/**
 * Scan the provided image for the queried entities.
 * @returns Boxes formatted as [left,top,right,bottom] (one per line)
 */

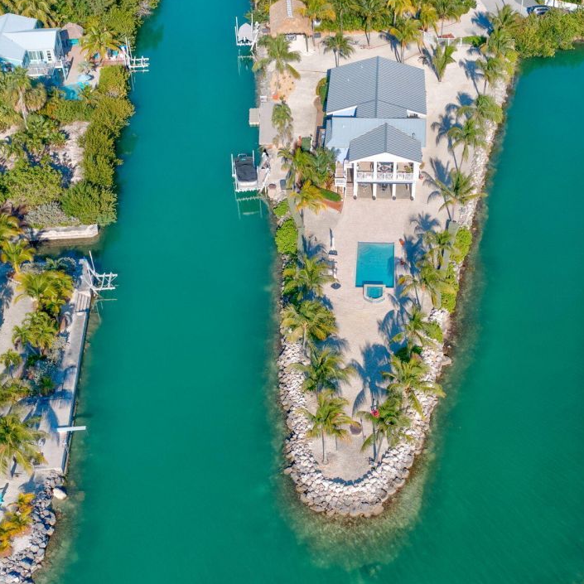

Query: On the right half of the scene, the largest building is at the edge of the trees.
[325,55,429,202]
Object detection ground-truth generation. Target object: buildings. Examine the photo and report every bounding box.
[0,13,71,88]
[265,2,317,48]
[325,55,429,202]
